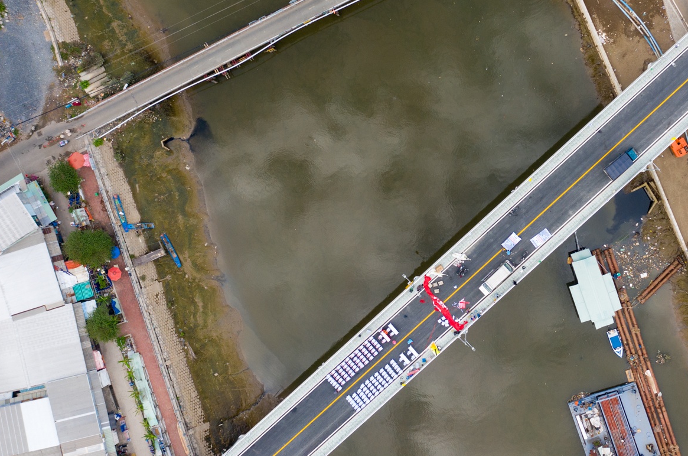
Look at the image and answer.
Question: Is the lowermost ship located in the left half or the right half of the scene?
right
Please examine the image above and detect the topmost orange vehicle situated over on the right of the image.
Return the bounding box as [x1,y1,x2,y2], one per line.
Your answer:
[668,138,688,159]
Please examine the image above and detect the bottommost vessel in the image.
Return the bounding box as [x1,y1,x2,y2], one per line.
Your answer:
[568,381,658,456]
